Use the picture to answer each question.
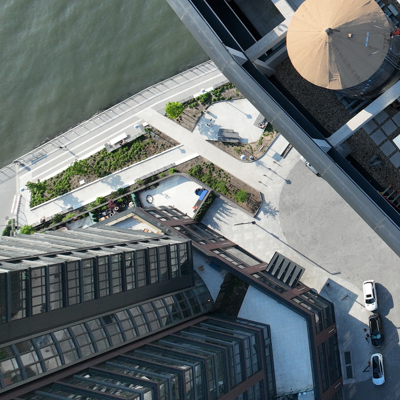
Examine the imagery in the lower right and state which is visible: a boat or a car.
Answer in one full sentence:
There is a car in the lower right.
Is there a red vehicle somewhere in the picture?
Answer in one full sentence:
No, no red vehicle can be seen from above.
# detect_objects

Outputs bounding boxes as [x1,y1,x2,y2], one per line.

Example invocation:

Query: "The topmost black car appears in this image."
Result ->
[369,313,386,348]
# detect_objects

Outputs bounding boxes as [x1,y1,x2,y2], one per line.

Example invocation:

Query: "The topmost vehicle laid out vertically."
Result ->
[363,278,380,313]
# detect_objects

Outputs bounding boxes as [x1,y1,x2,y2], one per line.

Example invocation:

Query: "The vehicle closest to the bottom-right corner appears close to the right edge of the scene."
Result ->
[371,351,386,386]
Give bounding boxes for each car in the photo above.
[369,313,386,348]
[298,155,326,184]
[371,351,386,386]
[363,278,380,313]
